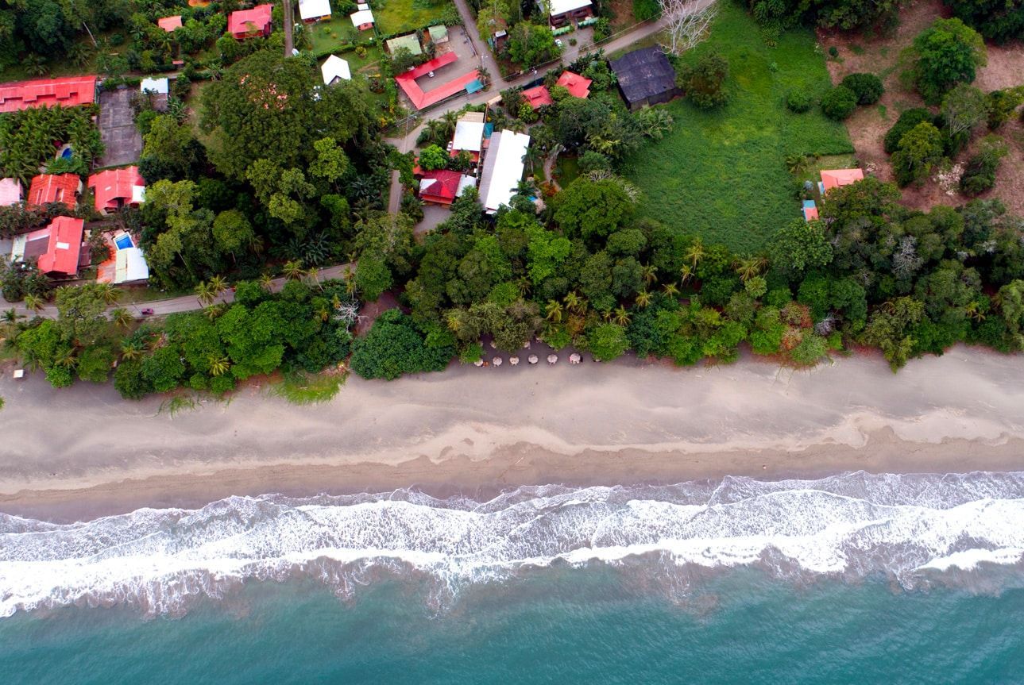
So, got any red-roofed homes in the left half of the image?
Yes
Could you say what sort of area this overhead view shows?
beach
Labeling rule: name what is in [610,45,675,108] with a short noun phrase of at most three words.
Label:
barn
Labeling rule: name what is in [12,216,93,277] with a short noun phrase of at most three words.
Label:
house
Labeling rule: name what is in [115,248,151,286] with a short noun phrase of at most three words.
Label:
shed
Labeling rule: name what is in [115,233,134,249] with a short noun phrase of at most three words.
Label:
swimming pool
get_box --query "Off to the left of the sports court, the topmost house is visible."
[0,75,96,112]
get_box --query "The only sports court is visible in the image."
[95,87,142,167]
